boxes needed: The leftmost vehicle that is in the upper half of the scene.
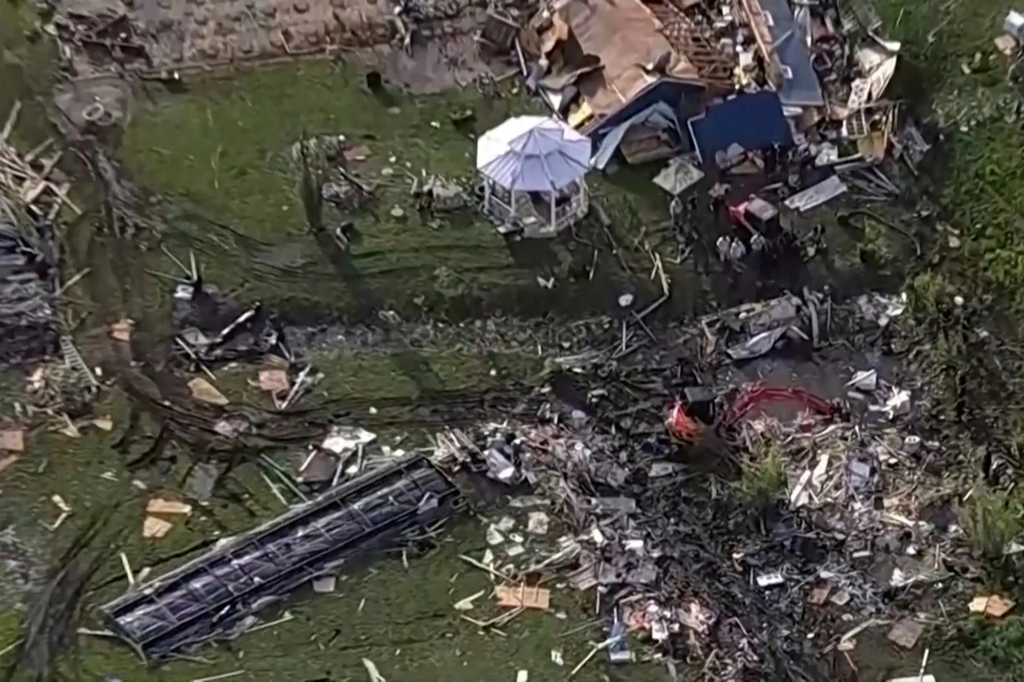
[719,199,786,251]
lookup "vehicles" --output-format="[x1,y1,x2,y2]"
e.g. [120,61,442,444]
[719,199,786,251]
[666,386,858,461]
